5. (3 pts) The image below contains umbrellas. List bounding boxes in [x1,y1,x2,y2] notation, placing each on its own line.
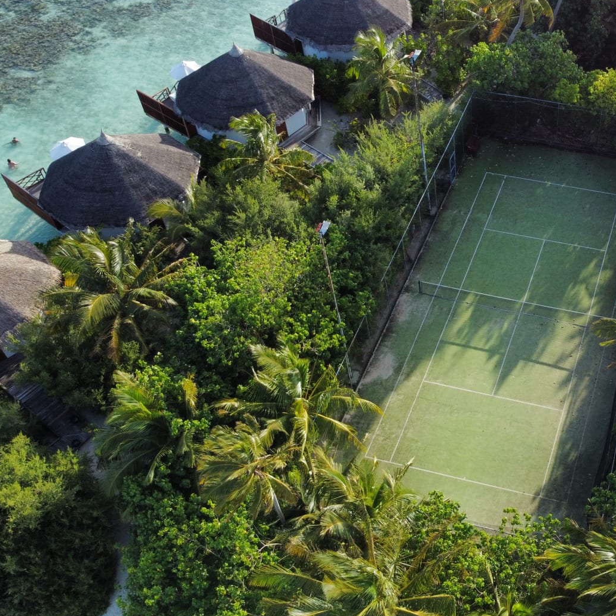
[49,137,86,160]
[169,59,202,80]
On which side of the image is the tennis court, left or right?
right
